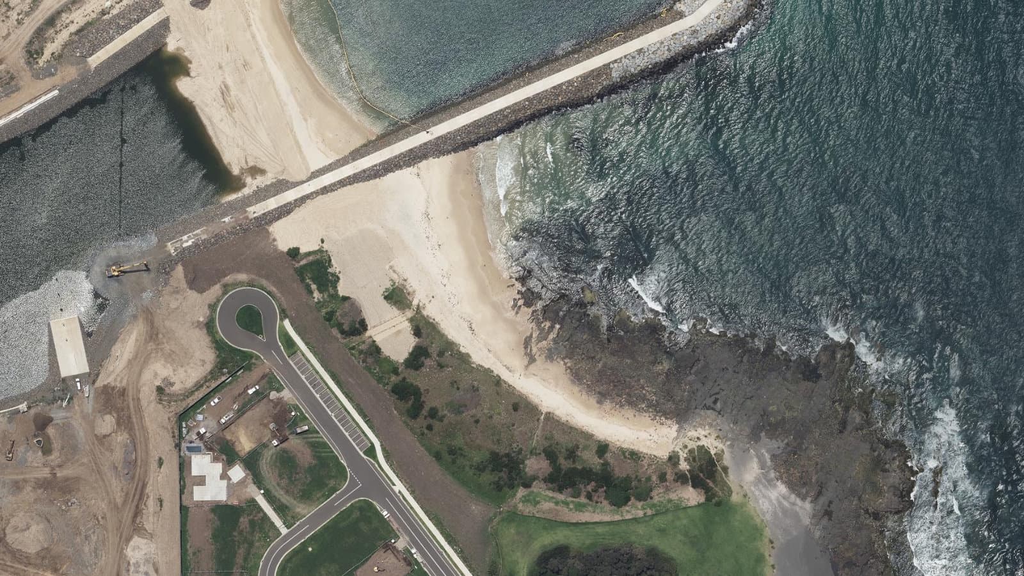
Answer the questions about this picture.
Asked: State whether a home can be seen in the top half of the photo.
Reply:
No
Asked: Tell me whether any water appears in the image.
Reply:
Yes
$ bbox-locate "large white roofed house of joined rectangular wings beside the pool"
[190,455,226,501]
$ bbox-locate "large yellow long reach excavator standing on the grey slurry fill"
[108,259,146,275]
